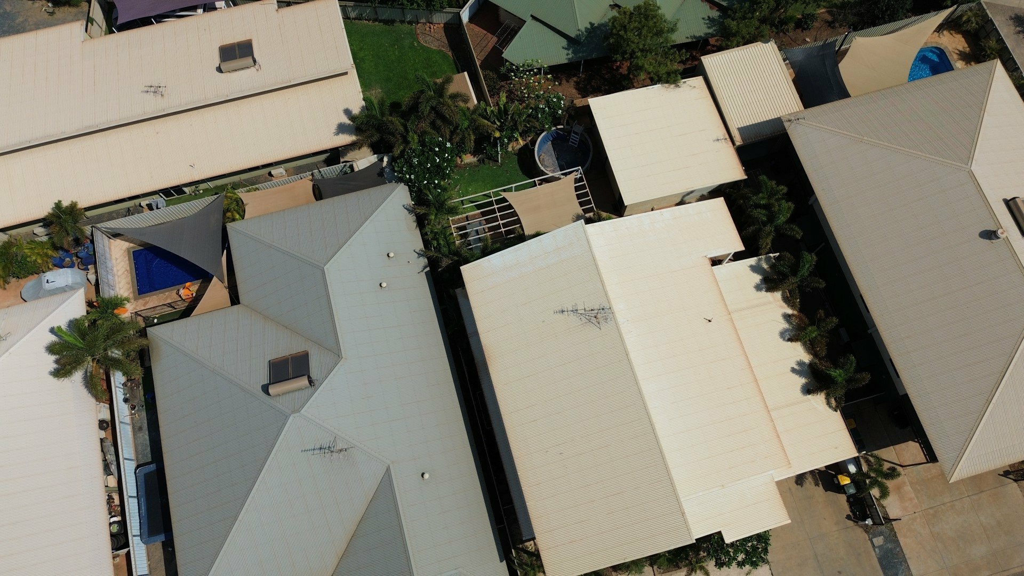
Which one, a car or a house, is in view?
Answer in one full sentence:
It is a house that can be seen here.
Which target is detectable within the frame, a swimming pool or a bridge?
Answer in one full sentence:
Looking from above, you can make out a swimming pool.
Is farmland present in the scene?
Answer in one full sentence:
No, the picture contains no farmland.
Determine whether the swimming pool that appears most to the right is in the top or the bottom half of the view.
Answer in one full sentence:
Seen from above, the swimming pool that appears most to the right lies in the top half of the view.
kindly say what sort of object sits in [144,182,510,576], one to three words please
house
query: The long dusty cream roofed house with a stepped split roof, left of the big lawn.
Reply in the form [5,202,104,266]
[0,0,369,238]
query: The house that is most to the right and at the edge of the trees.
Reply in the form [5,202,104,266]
[772,59,1024,482]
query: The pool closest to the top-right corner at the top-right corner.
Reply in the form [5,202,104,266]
[908,46,954,82]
